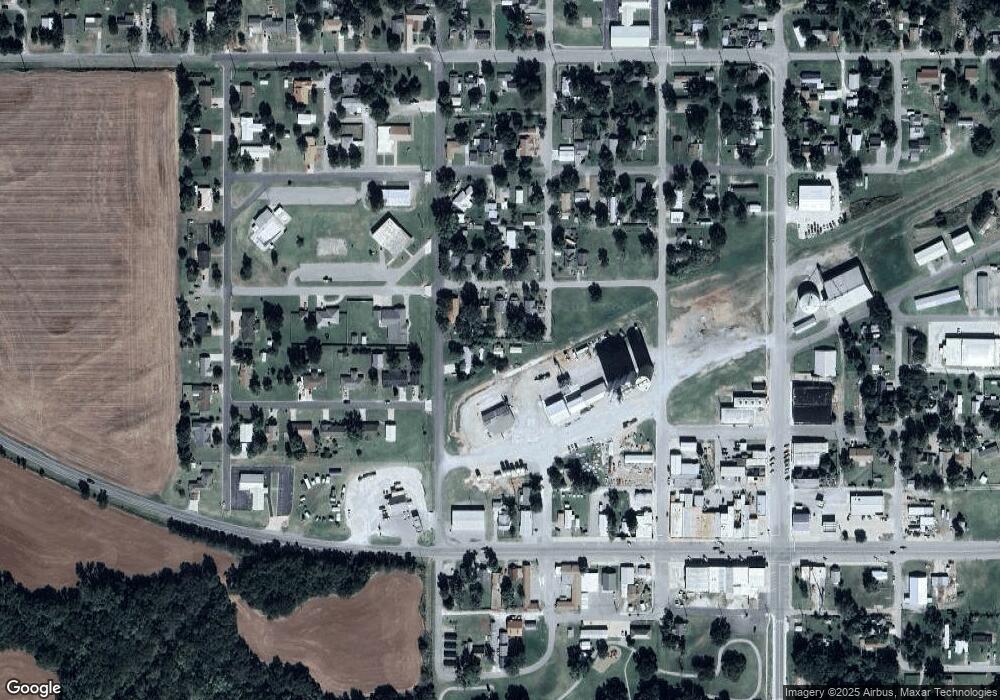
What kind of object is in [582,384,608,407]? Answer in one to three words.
building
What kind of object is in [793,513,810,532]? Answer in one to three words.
house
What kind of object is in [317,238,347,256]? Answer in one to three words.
sports court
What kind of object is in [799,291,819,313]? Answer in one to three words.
silo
